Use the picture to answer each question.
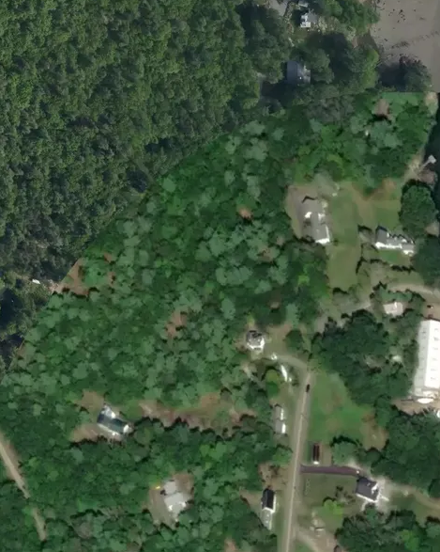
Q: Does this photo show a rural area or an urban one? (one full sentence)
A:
The land in this view is best described as rural.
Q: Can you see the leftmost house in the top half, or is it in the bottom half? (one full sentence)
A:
You can find the leftmost house in the bottom half.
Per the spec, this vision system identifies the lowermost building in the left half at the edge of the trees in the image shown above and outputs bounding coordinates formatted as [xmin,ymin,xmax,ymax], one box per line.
[163,480,187,513]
